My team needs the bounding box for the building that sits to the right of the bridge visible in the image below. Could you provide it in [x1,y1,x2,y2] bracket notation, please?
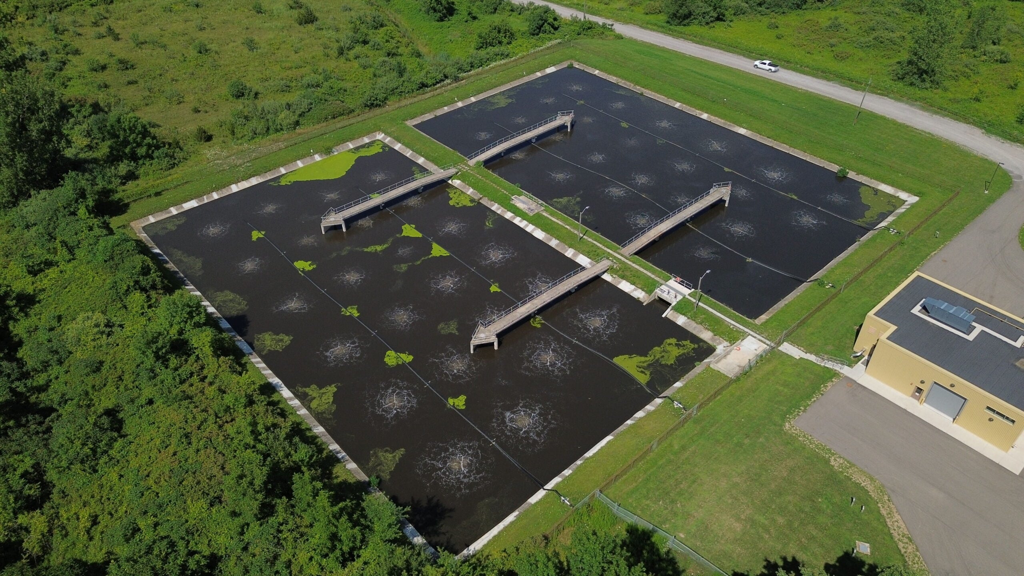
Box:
[853,270,1024,452]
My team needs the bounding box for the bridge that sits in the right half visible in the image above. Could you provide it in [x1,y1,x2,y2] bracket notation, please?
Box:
[639,270,700,321]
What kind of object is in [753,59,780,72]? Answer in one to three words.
vehicle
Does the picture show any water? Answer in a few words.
Yes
